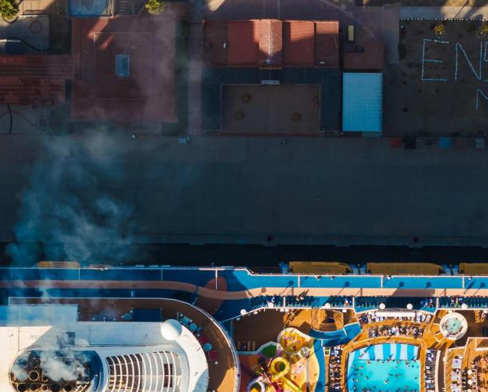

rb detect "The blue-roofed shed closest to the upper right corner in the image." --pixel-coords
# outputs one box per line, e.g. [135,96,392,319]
[344,73,382,134]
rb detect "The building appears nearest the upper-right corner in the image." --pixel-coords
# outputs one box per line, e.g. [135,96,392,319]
[344,40,384,70]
